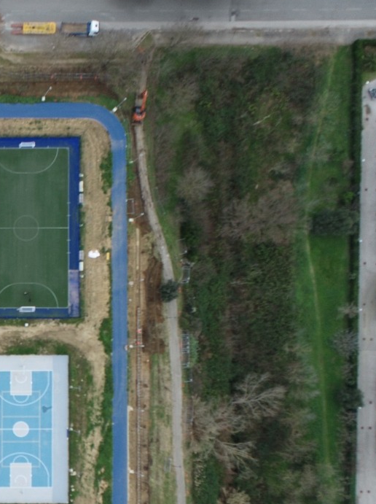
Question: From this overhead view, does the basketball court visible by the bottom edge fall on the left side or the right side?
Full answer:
It is on the left.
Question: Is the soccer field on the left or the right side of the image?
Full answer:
It is on the left.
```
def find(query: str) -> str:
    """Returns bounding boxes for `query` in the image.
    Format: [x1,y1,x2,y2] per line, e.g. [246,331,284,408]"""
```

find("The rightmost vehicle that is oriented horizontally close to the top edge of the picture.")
[58,21,96,36]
